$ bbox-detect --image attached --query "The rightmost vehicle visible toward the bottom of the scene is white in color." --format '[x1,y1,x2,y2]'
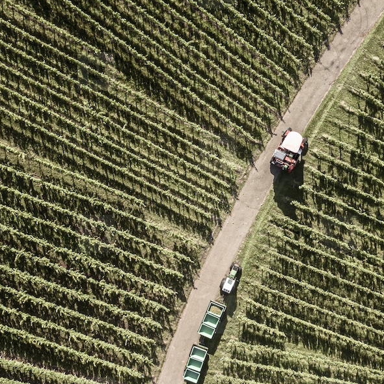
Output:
[219,260,242,295]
